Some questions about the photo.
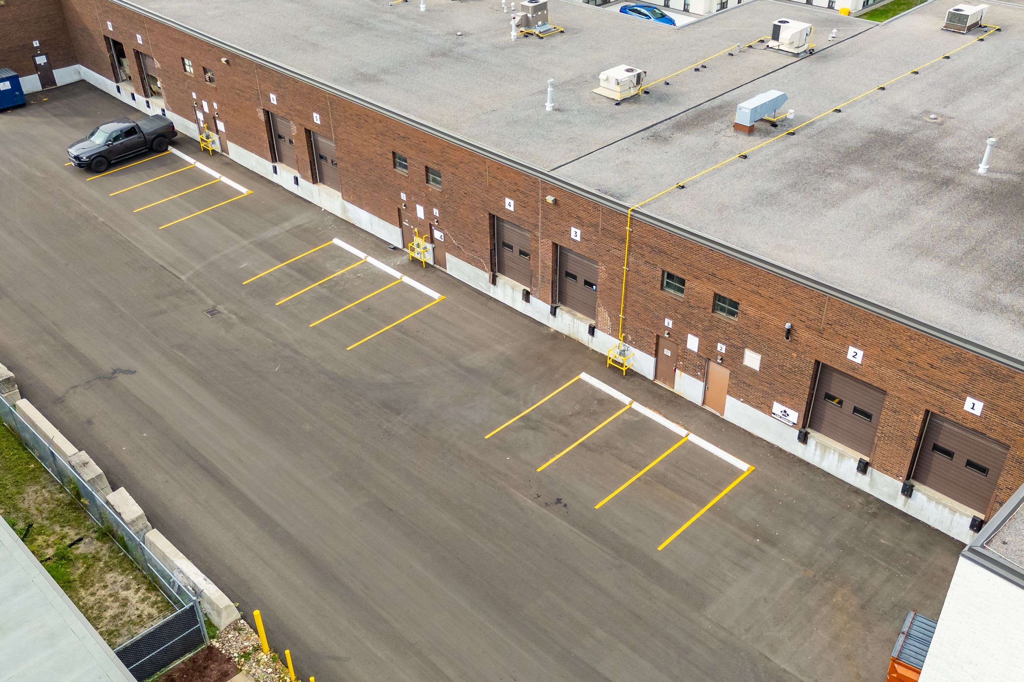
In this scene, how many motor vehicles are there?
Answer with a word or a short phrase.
two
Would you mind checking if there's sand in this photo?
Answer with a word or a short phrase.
No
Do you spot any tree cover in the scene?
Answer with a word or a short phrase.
No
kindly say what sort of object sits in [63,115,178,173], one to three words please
truck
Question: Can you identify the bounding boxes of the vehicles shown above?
[63,115,178,173]
[613,3,673,24]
